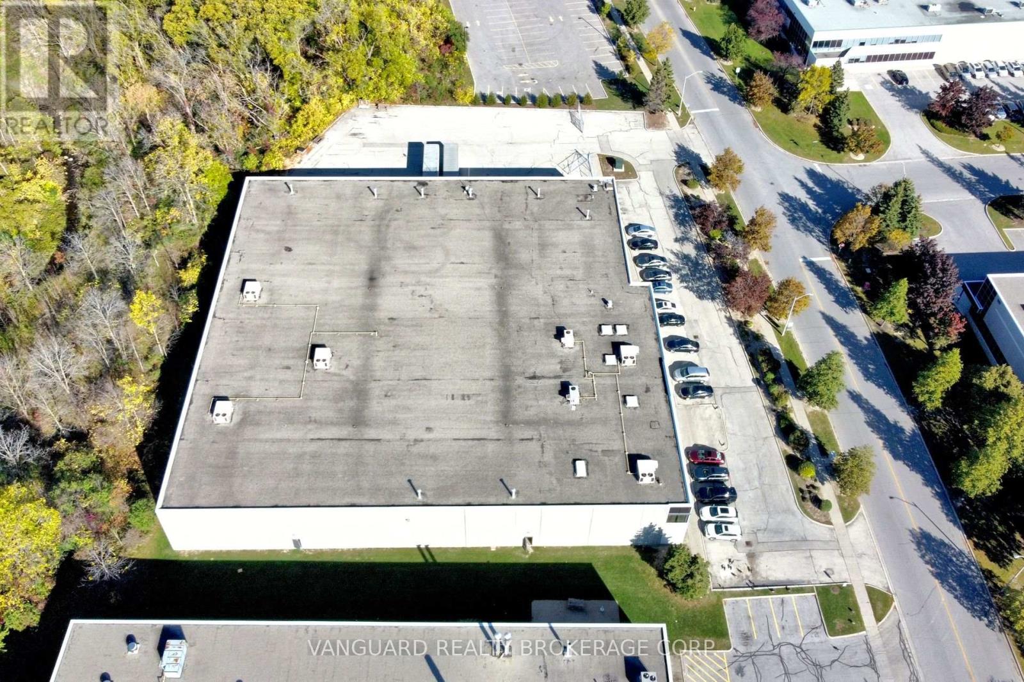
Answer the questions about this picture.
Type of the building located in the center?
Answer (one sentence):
The building located in the center in the image is a warehouse.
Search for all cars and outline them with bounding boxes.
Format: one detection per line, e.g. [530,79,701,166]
[981,61,998,76]
[968,62,986,77]
[1005,58,1024,75]
[936,63,955,80]
[954,62,972,78]
[992,60,1010,75]
[656,299,680,313]
[697,483,737,503]
[629,237,658,251]
[678,383,714,399]
[665,338,699,354]
[627,225,657,238]
[658,311,688,328]
[688,448,726,465]
[704,521,743,541]
[642,268,673,282]
[692,464,731,483]
[673,365,709,382]
[644,281,676,295]
[635,253,666,268]
[699,503,739,523]
[889,69,908,84]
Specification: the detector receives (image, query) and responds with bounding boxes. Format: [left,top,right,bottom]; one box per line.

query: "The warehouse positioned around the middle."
[155,177,694,554]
